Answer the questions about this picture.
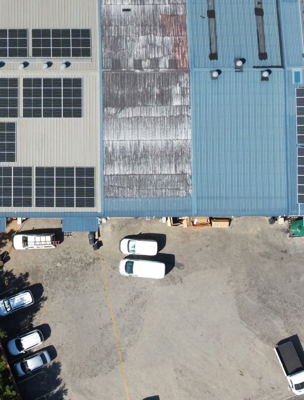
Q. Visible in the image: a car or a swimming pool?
car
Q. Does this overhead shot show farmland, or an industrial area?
industrial area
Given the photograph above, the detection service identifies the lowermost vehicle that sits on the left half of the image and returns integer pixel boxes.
[13,349,53,376]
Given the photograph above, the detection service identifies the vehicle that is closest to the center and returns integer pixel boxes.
[119,238,158,257]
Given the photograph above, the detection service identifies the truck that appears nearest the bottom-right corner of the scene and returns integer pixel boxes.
[273,341,304,396]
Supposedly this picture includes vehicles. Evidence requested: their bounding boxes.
[7,330,46,356]
[12,233,56,252]
[13,349,53,376]
[117,259,166,279]
[273,341,304,396]
[0,290,35,316]
[119,238,158,257]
